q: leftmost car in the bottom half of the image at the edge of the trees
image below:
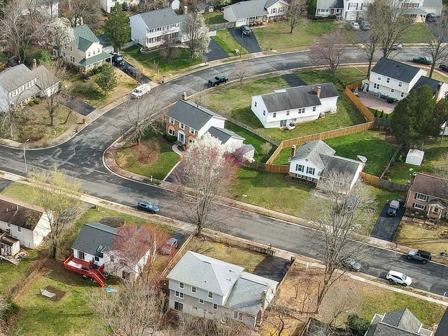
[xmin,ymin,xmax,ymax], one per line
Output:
[135,196,160,212]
